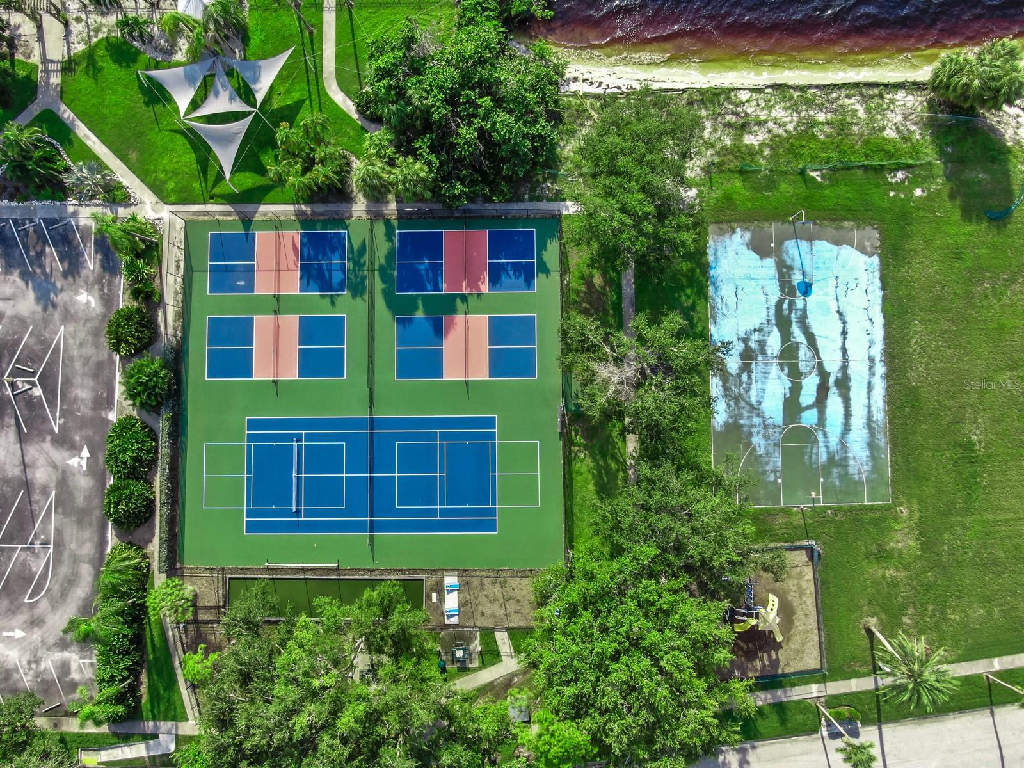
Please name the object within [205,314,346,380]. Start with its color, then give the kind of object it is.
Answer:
blue sports court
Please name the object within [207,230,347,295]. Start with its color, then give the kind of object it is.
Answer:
blue sports court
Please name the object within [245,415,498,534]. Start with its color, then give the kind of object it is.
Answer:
blue tennis court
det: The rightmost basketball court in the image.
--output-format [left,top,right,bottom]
[709,222,891,506]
